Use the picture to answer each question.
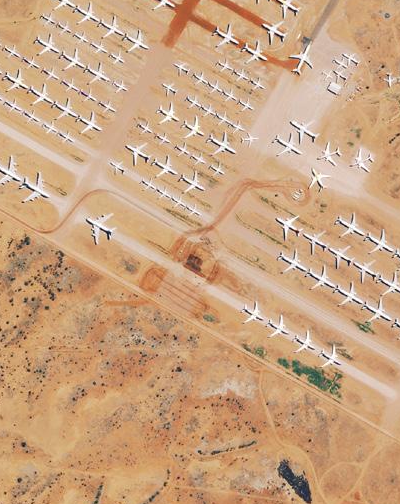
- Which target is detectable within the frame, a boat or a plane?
plane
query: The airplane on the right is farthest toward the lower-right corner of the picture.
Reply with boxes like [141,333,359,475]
[319,346,341,367]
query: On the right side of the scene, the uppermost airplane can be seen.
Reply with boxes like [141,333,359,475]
[279,0,300,16]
